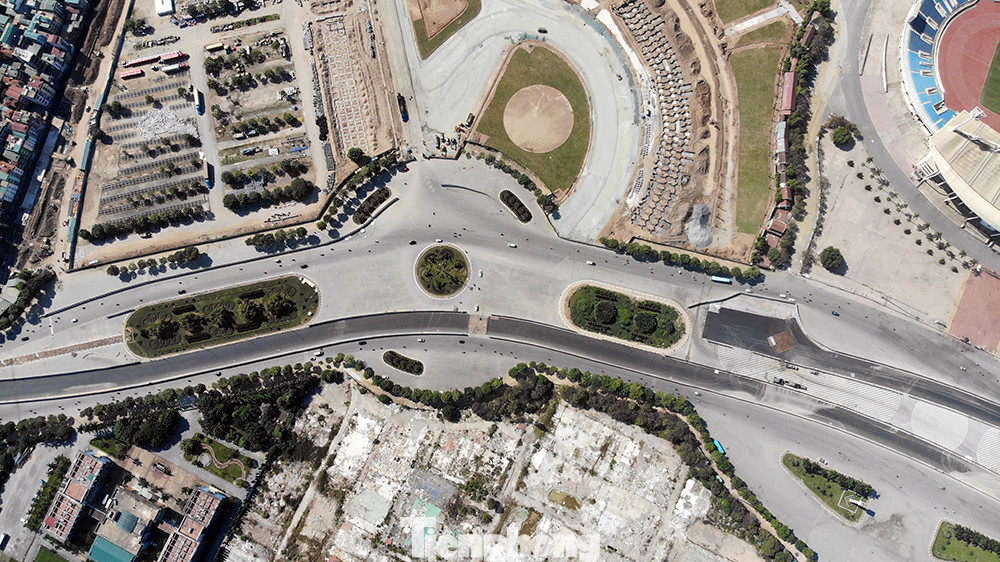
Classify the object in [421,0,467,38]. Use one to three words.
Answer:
sports field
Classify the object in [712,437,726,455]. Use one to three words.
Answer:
vehicle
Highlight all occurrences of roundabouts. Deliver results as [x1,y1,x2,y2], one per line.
[413,242,472,300]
